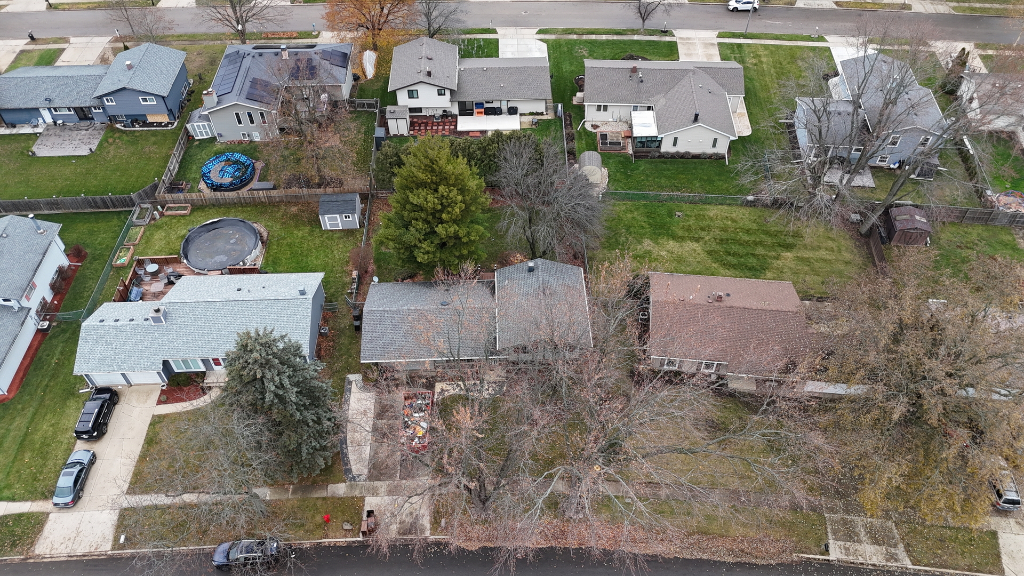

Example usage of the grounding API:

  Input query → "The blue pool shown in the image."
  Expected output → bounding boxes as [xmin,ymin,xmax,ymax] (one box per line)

[199,149,257,188]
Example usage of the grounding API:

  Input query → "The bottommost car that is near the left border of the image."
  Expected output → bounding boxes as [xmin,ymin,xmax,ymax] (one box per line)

[48,448,97,506]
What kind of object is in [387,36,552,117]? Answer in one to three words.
house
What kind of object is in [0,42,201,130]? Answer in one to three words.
house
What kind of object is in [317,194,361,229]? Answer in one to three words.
shed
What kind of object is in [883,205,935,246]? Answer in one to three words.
shed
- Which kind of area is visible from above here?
residential area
